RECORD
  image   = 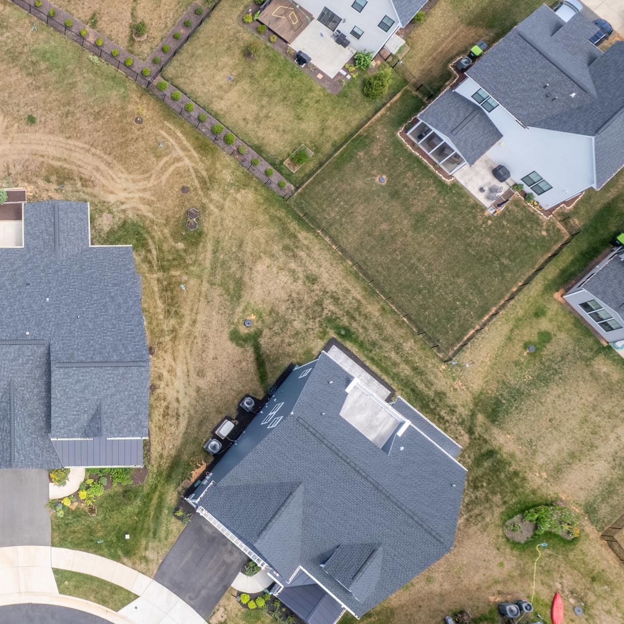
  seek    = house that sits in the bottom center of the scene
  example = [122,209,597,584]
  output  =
[184,349,467,624]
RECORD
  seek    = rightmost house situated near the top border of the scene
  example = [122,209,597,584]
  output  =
[407,1,624,212]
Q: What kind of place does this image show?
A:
residential area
